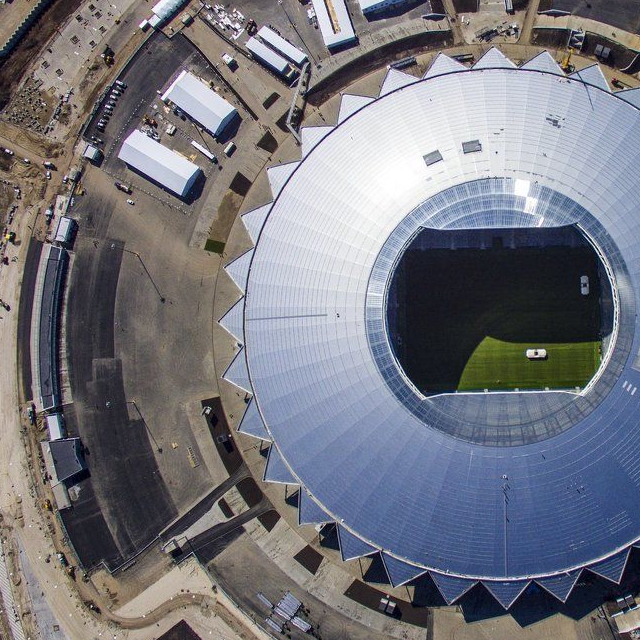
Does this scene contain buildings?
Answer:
Yes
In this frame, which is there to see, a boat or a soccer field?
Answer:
soccer field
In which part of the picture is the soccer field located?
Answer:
right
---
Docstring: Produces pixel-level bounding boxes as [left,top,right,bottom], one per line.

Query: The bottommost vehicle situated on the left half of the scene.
[82,603,99,617]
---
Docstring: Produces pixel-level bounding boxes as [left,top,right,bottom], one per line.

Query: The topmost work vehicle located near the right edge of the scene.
[608,73,625,87]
